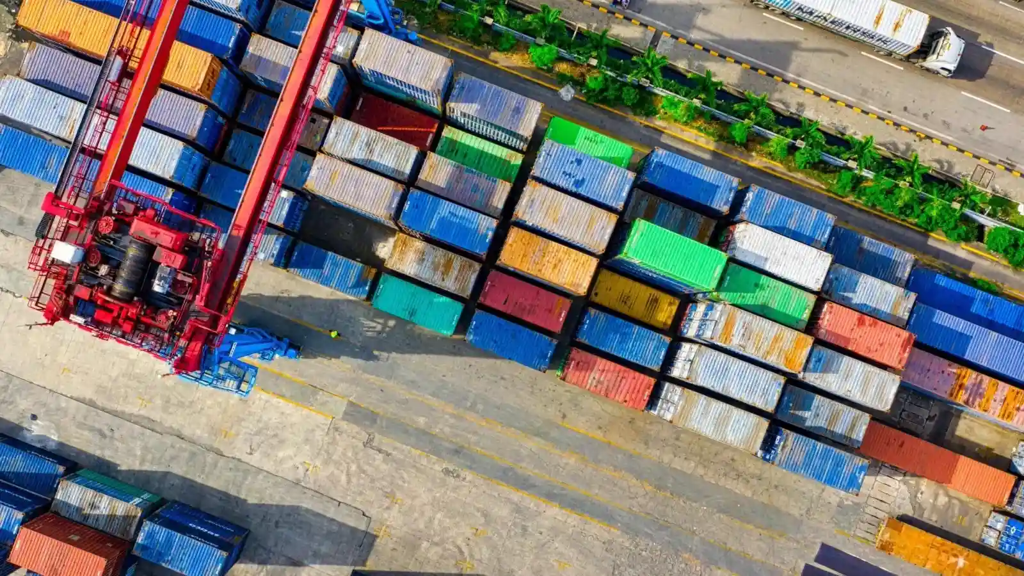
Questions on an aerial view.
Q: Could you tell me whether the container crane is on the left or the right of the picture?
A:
left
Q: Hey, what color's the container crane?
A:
red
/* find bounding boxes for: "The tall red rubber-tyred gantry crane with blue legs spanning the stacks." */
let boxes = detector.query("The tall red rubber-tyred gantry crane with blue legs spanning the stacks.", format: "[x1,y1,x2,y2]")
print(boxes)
[12,0,430,406]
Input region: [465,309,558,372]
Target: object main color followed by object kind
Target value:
blue shipping container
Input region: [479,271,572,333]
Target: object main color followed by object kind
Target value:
red shipping container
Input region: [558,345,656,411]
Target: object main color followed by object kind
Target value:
red shipping container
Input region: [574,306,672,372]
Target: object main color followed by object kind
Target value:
blue shipping container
